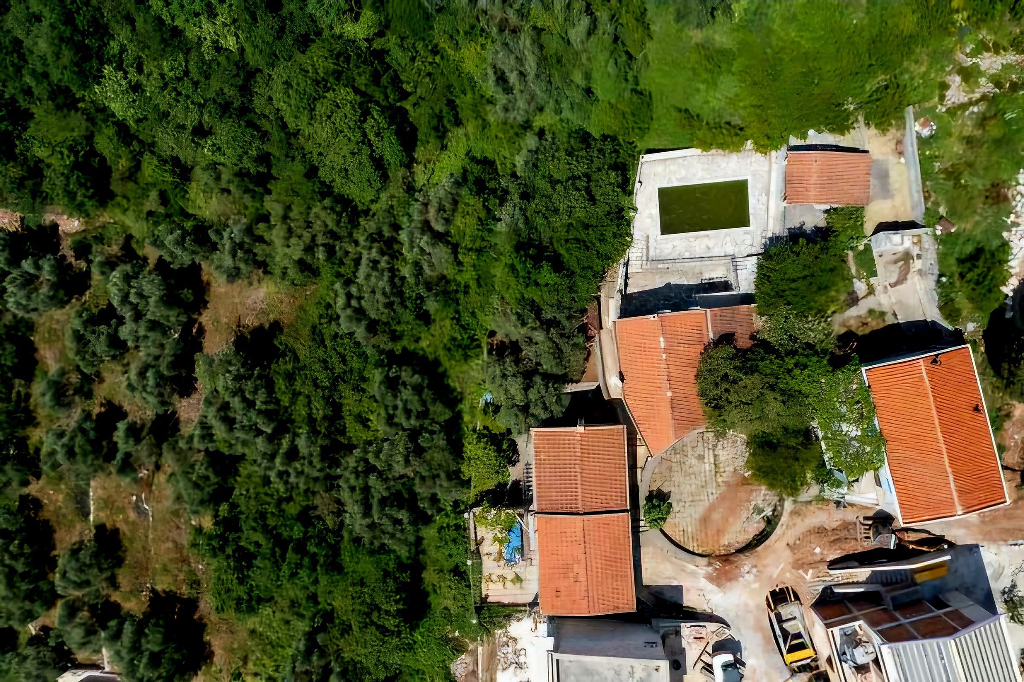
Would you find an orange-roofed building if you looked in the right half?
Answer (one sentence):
Yes, I can see an orange-roofed building in the right half.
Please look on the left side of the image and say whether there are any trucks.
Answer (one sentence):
No, looking on the left side of the image, there is no truck.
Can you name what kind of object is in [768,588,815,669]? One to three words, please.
truck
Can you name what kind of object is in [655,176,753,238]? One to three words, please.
swimming pool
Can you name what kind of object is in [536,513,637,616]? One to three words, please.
house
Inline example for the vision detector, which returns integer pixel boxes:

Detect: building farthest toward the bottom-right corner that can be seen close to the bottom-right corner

[810,587,1024,682]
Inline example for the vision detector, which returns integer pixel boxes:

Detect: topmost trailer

[861,515,889,549]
